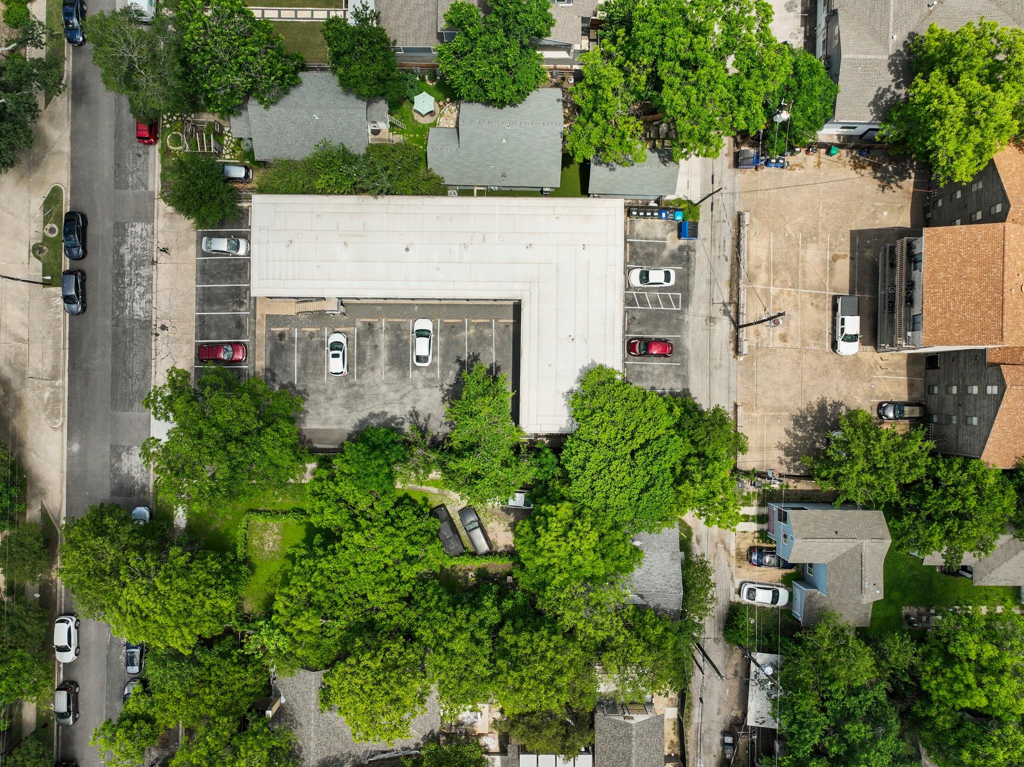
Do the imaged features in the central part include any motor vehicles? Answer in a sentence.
Yes, a motor vehicle appears in the central part.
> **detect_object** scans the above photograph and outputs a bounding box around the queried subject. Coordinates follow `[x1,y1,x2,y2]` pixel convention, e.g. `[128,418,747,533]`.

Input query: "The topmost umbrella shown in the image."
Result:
[415,94,435,117]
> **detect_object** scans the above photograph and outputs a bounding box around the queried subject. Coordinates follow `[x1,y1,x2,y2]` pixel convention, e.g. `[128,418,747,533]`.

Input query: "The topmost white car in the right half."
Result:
[626,266,674,289]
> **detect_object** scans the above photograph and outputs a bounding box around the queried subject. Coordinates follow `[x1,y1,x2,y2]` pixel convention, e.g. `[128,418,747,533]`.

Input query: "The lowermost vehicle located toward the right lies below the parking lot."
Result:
[739,583,788,608]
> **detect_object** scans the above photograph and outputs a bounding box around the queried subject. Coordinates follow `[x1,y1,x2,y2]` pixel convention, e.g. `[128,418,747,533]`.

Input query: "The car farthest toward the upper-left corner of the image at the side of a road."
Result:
[61,0,88,46]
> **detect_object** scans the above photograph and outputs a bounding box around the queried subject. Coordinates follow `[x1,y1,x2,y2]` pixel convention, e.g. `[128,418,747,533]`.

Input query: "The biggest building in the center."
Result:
[251,195,625,434]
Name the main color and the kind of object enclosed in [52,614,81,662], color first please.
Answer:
white car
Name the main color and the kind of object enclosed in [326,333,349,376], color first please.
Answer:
white car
